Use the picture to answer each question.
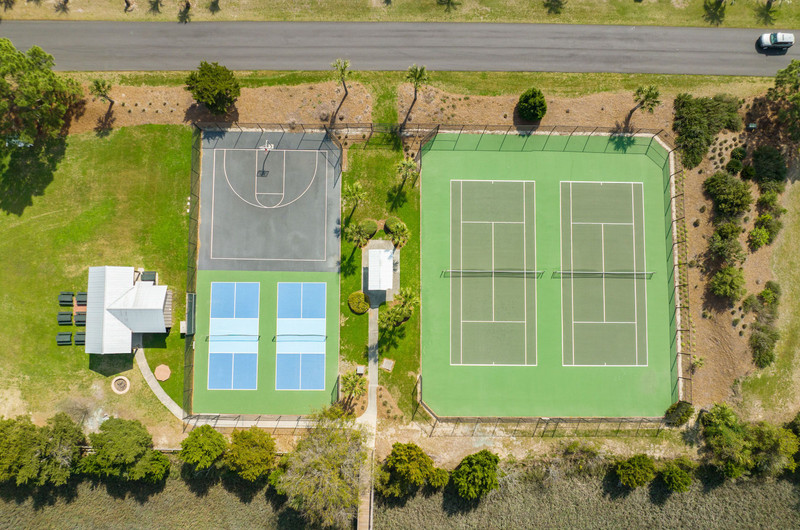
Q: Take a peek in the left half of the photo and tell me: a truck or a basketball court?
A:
basketball court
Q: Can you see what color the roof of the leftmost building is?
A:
white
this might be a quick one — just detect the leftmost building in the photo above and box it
[85,266,173,354]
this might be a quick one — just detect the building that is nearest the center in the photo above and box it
[362,241,400,301]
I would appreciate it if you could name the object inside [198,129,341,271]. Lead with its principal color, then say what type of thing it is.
gray basketball court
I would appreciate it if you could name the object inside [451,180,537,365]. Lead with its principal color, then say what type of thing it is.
green tennis court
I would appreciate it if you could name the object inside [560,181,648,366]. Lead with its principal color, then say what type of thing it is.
green tennis court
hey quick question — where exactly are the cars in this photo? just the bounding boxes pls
[759,32,795,50]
